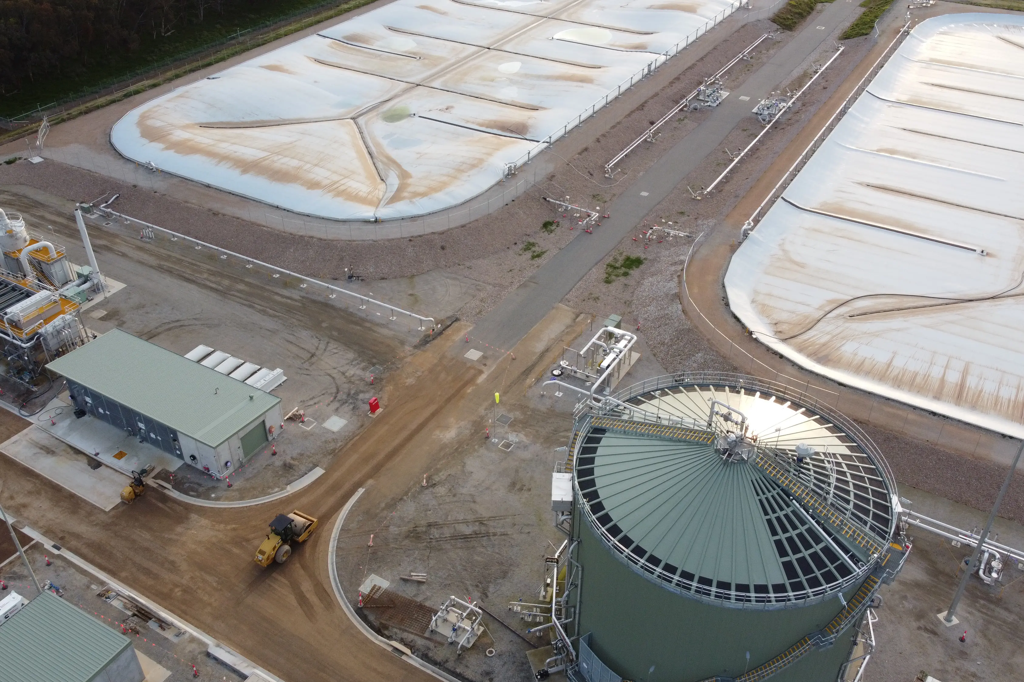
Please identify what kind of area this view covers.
industrial area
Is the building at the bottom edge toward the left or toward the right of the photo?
left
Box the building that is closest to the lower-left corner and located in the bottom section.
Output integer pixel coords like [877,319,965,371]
[0,587,136,682]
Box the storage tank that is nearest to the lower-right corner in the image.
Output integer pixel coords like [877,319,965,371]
[505,373,918,682]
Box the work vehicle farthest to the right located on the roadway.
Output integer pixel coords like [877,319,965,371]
[253,504,322,571]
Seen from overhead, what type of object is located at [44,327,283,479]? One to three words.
building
